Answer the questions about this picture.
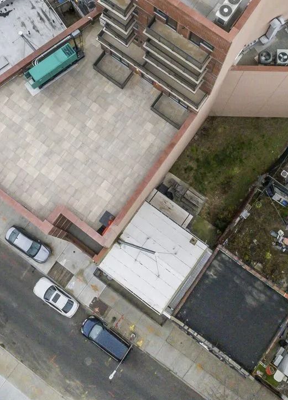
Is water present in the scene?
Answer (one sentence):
No, the scene doesn't show any water.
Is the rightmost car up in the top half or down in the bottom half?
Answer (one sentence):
The rightmost car sits in the bottom half of the picture.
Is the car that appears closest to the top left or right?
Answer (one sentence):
You can find the car that appears closest to the top on the left side of the picture.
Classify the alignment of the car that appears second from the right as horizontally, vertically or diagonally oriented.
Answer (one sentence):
What the image shows is the car that appears second from the right lying diagonally.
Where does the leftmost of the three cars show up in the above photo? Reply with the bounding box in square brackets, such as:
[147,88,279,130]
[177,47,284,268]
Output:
[0,220,56,269]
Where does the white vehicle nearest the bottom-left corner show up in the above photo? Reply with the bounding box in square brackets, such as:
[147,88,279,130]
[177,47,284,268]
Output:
[28,272,85,327]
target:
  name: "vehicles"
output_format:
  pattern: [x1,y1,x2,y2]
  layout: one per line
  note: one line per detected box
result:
[0,220,56,269]
[75,311,137,371]
[28,272,85,327]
